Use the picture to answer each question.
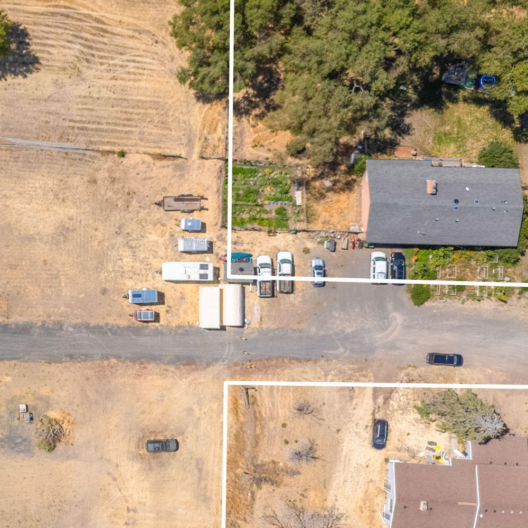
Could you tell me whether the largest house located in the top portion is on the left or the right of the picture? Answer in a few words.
right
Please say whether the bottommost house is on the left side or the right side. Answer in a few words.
right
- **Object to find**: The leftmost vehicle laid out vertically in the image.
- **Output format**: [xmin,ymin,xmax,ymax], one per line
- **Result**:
[256,256,274,297]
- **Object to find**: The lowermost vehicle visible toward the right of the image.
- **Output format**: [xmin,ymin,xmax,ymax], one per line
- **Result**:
[371,418,389,450]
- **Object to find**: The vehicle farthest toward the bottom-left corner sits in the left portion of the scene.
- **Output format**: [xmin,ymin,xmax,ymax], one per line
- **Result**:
[146,437,178,454]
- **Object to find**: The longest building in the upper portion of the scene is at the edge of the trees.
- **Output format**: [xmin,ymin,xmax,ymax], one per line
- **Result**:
[361,159,524,247]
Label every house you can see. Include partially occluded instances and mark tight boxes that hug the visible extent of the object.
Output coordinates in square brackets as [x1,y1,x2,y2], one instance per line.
[361,159,524,247]
[376,435,528,528]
